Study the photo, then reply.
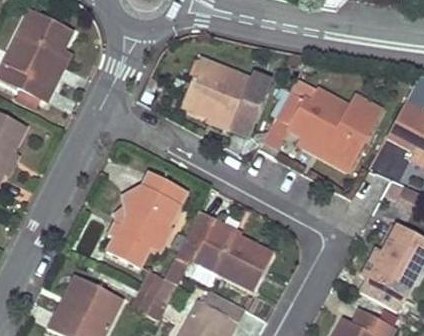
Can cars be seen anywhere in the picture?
Yes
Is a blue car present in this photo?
No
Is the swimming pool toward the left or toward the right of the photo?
left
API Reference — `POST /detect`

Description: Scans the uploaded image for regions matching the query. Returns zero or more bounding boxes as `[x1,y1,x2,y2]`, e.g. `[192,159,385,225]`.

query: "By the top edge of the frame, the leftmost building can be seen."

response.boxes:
[0,10,76,104]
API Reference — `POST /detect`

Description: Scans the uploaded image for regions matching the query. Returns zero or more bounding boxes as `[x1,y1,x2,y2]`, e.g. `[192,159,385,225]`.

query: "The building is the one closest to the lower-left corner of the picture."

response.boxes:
[46,275,126,336]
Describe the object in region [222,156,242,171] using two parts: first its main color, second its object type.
white vehicle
